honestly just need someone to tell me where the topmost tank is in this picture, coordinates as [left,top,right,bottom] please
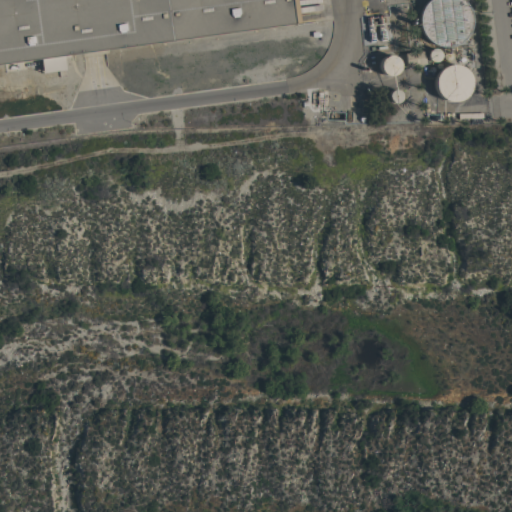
[420,0,476,52]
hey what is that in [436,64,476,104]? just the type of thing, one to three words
storage tank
